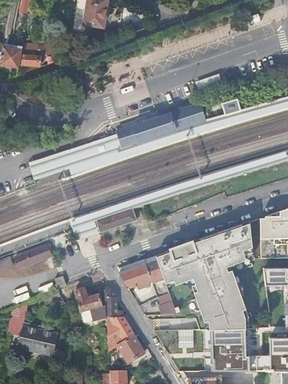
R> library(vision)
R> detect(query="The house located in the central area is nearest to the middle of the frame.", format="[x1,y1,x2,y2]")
[98,209,136,232]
